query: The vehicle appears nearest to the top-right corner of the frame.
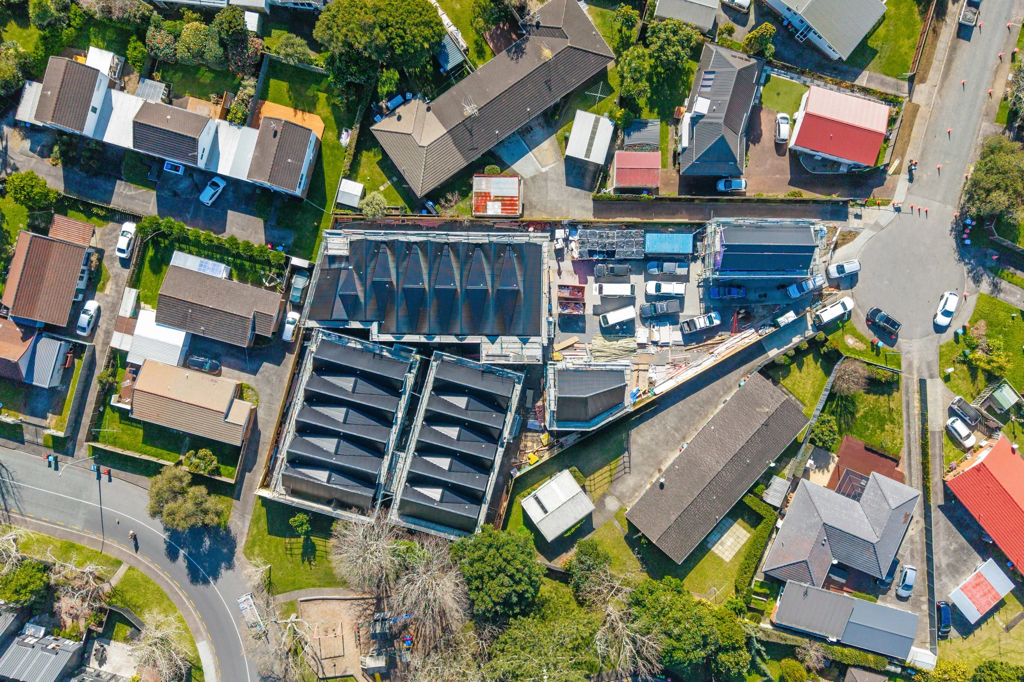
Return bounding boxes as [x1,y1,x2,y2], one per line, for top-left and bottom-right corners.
[956,0,985,26]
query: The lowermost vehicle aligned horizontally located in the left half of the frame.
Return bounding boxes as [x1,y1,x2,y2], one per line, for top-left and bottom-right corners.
[185,355,222,374]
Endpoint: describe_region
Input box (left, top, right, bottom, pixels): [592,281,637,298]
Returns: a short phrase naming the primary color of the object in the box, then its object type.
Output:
white vehicle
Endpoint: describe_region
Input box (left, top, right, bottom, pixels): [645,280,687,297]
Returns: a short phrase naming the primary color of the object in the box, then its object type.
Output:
white vehicle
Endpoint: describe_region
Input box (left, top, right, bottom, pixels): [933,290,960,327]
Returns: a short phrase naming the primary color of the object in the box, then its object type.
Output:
white car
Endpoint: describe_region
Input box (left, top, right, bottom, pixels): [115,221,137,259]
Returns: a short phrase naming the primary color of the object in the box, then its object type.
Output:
white car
